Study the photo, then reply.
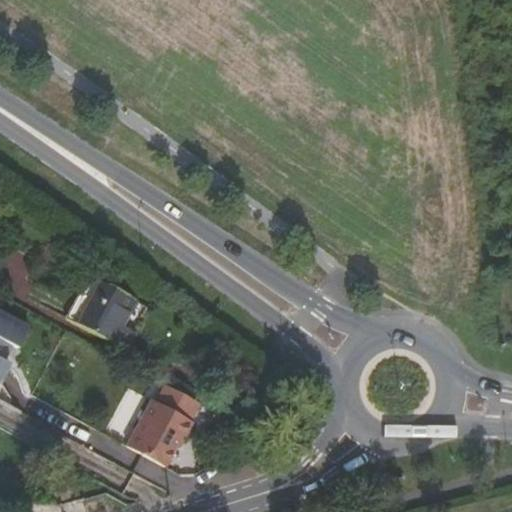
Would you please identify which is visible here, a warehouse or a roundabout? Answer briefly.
roundabout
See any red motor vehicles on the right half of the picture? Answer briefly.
No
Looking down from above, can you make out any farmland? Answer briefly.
No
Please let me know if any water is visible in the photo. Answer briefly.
No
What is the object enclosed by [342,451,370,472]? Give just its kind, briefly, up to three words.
vehicle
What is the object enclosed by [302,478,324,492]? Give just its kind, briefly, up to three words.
vehicle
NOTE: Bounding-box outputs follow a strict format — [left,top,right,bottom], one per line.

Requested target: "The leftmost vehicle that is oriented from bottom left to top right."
[196,468,216,484]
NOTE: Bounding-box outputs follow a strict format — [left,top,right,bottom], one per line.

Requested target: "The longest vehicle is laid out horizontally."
[384,424,459,440]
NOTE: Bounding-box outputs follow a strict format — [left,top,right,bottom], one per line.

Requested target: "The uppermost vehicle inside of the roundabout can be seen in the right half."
[393,332,415,347]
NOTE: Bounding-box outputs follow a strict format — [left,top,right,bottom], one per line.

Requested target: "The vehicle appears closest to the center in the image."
[222,240,243,256]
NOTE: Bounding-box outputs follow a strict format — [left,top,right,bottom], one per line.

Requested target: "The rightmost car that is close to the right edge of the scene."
[479,379,501,392]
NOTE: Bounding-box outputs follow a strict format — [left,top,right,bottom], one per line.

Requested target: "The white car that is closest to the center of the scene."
[163,202,183,218]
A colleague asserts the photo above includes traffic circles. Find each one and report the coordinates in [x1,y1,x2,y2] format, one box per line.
[322,308,484,462]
